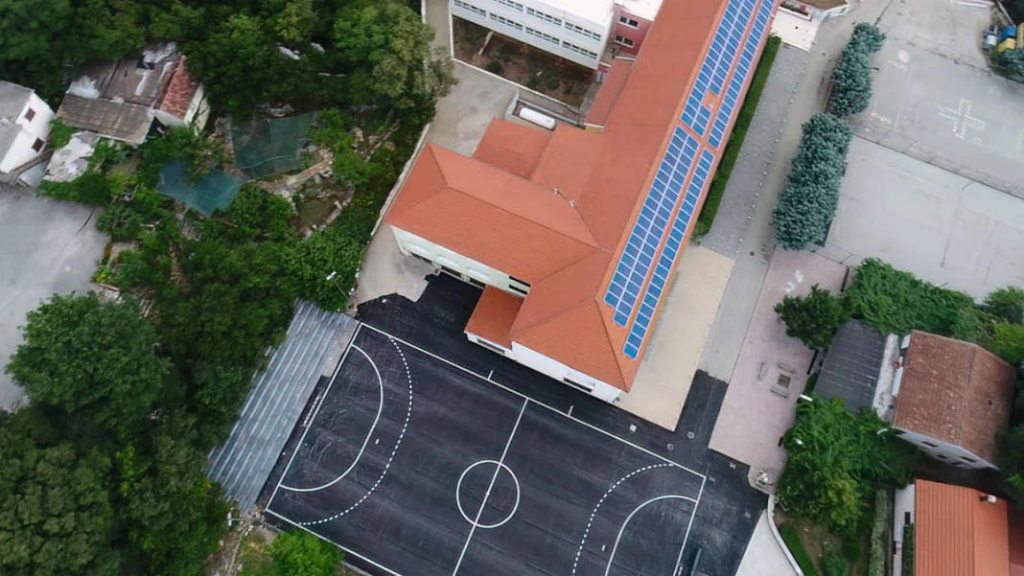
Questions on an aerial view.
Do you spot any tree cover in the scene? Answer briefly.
Yes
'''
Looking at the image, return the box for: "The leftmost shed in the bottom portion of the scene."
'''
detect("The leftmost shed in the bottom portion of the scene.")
[204,304,358,510]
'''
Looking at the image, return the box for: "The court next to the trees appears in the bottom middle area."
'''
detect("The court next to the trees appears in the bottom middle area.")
[265,325,709,576]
